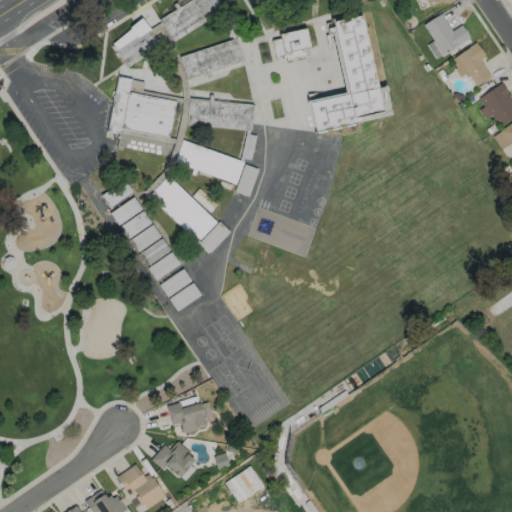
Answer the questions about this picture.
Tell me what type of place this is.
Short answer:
sports ground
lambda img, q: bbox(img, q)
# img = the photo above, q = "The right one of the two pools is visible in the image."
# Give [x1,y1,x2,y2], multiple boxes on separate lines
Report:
[454,80,473,94]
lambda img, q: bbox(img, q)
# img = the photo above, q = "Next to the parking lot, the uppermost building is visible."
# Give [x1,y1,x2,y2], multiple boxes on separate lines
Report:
[160,0,217,40]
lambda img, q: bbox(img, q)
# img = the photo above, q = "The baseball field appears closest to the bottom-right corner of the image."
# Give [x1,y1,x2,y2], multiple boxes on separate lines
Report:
[286,320,512,512]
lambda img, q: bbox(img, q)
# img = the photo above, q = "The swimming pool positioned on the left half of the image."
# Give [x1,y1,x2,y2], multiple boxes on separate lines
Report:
[192,442,210,464]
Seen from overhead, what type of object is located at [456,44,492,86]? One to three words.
house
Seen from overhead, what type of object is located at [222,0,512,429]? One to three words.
sports field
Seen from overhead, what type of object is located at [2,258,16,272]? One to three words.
gazebo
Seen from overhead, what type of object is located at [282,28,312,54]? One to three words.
building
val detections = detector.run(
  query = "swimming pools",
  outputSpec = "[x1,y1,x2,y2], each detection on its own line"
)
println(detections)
[454,80,473,94]
[192,442,210,464]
